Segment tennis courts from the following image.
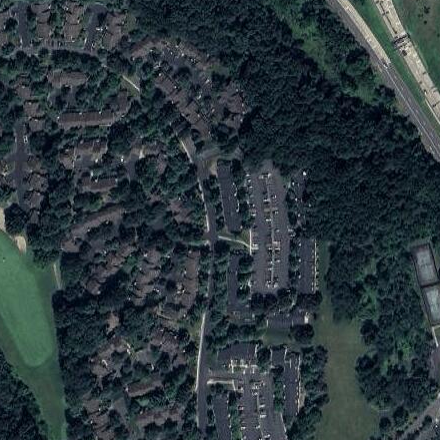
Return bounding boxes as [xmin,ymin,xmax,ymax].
[421,282,440,327]
[412,244,439,287]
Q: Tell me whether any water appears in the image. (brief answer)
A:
No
